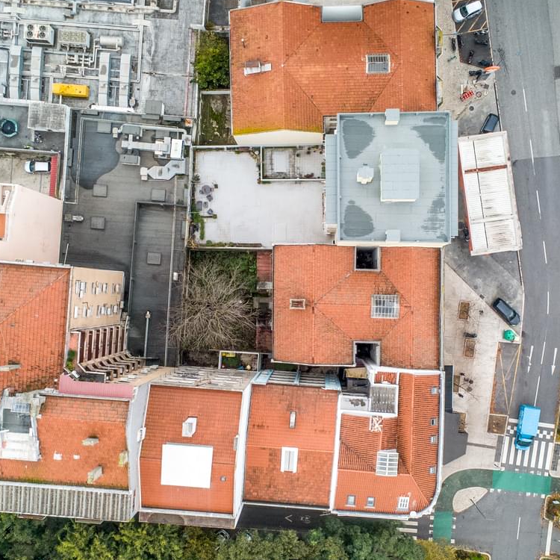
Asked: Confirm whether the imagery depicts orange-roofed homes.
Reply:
Yes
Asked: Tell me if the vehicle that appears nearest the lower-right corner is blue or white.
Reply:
blue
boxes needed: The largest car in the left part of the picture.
[21,158,51,174]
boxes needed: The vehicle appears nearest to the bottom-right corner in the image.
[518,405,542,450]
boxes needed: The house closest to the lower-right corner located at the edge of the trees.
[335,363,468,518]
